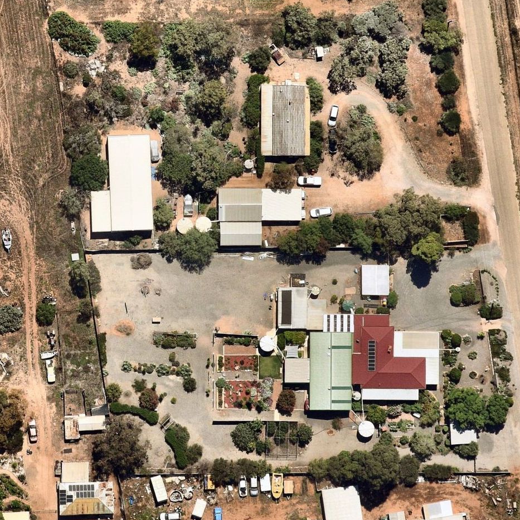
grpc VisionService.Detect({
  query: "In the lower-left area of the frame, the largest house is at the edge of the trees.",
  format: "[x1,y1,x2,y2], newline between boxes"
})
[57,481,113,516]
